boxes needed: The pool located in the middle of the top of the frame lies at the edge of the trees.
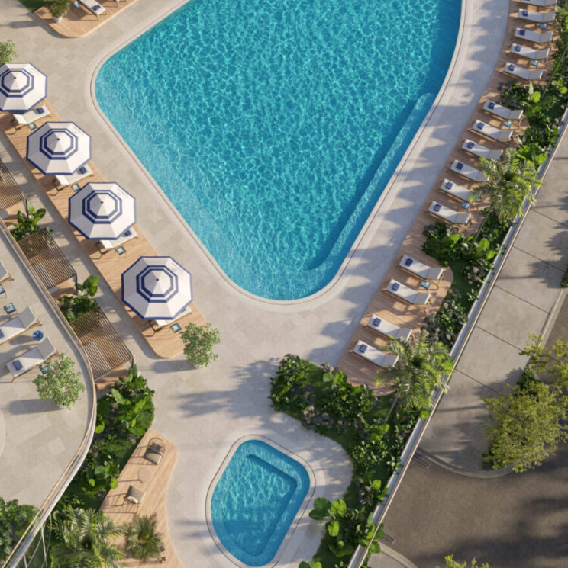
[95,0,462,300]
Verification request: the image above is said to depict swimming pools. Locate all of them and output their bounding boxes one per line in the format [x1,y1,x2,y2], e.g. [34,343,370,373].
[95,0,462,300]
[211,441,310,567]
